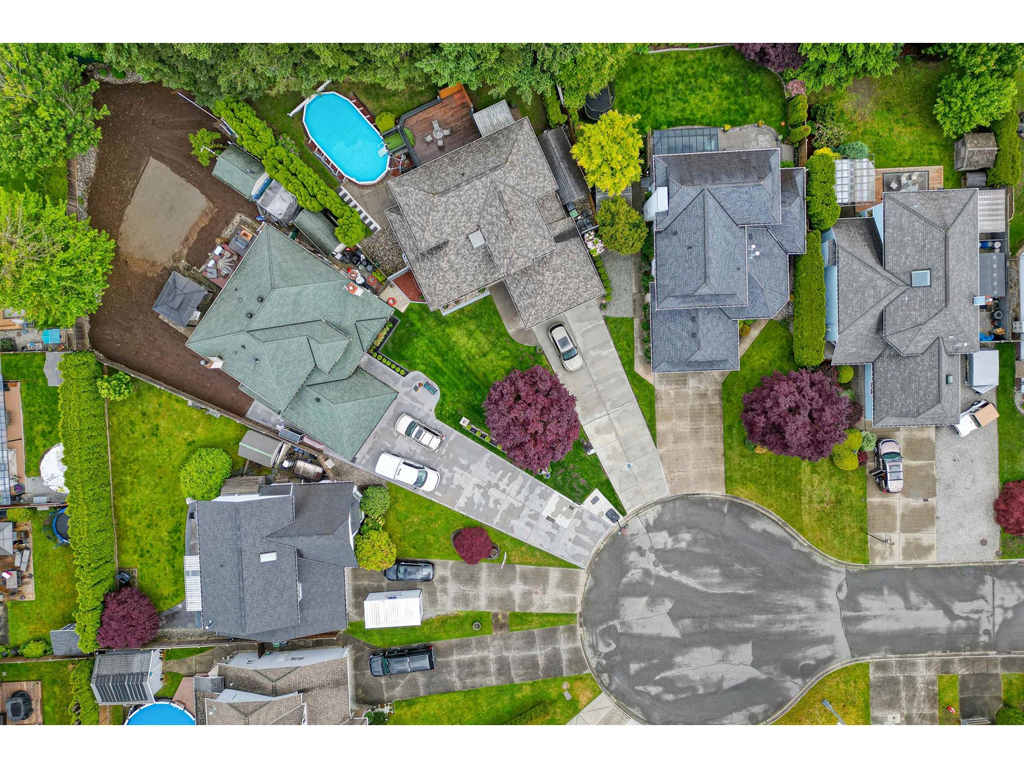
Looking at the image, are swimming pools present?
Yes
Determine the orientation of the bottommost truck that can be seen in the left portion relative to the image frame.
from left to right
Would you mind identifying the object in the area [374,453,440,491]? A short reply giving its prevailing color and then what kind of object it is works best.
white truck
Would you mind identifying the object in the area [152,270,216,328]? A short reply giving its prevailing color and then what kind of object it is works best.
gray gazebo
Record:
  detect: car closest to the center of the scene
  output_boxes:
[546,320,581,375]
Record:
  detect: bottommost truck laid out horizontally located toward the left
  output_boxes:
[370,644,437,676]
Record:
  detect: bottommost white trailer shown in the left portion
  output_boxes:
[363,590,441,629]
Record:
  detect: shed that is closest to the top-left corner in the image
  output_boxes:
[210,141,271,203]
